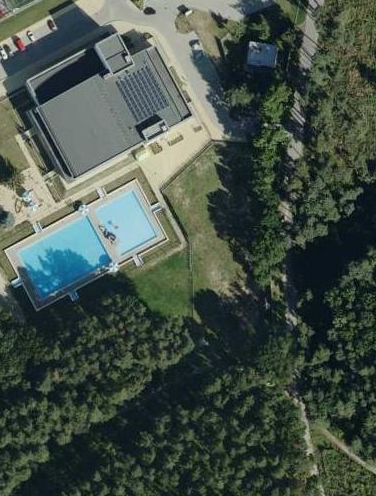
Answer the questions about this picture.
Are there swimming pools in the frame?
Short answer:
Yes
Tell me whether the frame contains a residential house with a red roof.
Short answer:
No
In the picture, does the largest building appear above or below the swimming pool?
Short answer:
above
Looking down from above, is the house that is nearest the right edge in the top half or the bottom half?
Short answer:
top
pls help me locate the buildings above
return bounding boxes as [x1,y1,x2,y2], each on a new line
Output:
[248,42,279,68]
[26,32,192,182]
